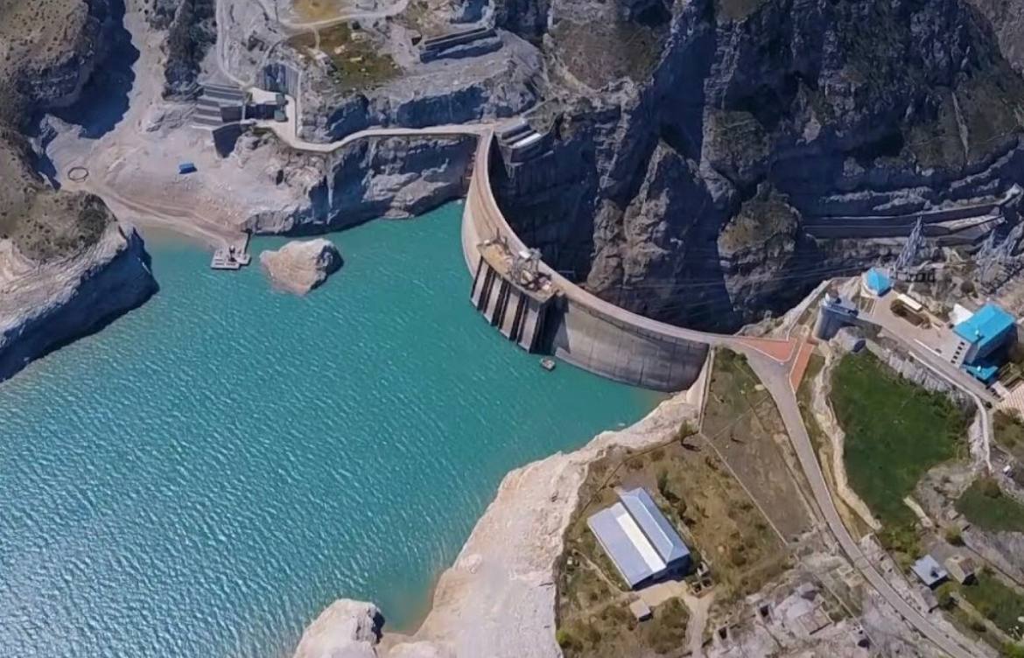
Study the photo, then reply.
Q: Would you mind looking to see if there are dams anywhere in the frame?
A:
Yes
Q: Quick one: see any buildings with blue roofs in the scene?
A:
Yes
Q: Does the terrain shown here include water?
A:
Yes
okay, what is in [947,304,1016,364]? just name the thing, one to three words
building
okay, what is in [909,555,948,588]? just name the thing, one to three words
shed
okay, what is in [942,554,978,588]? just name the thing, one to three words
house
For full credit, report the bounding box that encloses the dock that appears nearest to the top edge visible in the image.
[211,231,252,269]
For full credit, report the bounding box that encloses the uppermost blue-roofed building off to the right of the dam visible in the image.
[861,273,893,297]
